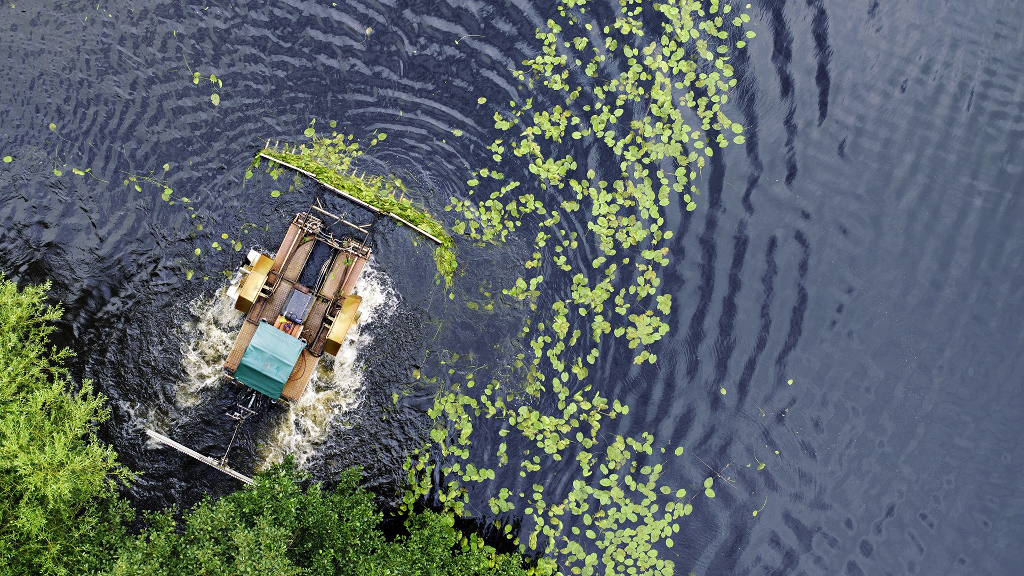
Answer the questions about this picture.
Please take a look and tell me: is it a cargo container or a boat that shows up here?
boat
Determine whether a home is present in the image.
No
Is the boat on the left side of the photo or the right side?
left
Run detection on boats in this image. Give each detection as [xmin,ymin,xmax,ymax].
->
[146,138,448,486]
